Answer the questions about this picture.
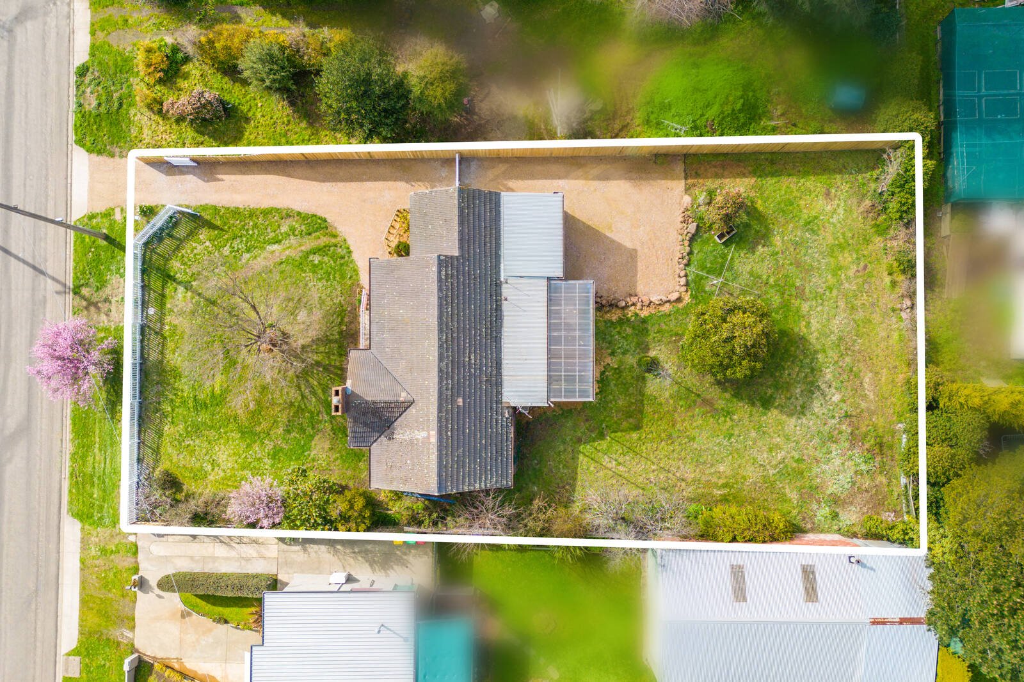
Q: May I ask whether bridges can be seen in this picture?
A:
No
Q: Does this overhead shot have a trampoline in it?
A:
No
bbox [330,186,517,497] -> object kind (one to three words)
house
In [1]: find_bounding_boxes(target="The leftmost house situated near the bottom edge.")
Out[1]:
[248,576,418,682]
